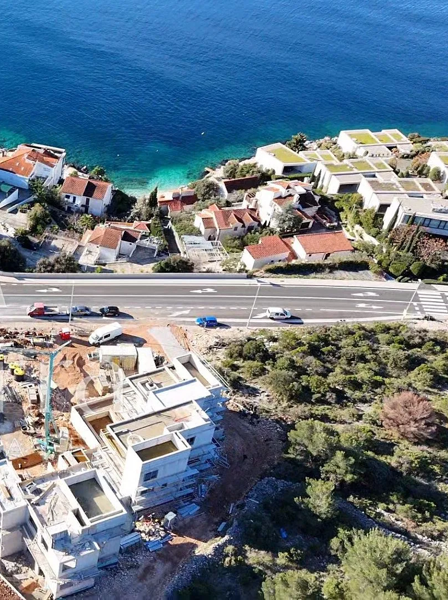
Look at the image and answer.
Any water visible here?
Yes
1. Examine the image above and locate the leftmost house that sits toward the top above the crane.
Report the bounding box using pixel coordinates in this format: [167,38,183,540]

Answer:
[0,151,77,196]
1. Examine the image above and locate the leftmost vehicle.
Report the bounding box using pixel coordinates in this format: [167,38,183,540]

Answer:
[27,302,59,318]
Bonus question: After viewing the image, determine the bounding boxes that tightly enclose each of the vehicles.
[194,316,221,327]
[67,304,93,316]
[265,306,294,320]
[27,302,59,318]
[97,304,122,316]
[89,320,124,345]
